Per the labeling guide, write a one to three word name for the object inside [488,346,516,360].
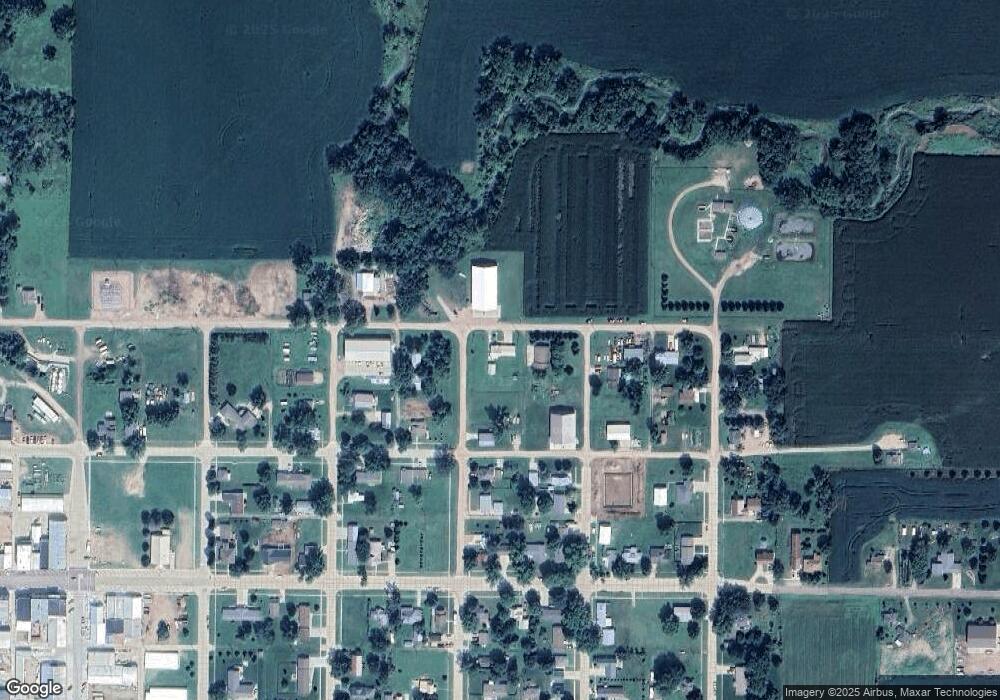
building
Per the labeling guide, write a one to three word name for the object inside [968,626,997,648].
shed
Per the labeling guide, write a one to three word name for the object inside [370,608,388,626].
house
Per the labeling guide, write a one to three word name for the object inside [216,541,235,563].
house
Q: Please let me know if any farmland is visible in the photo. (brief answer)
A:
Yes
